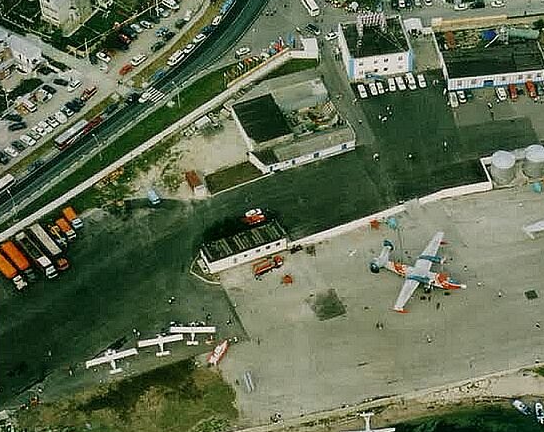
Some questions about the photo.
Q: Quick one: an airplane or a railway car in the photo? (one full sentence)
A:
Of the two, only an airplane appears.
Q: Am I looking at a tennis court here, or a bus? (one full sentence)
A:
Looking from above, you can make out a bus.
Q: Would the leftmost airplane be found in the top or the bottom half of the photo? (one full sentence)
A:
The leftmost airplane sits in the bottom half of the picture.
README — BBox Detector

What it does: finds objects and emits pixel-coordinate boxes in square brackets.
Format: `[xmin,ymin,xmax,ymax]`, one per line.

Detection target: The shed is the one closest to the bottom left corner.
[199,218,288,272]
